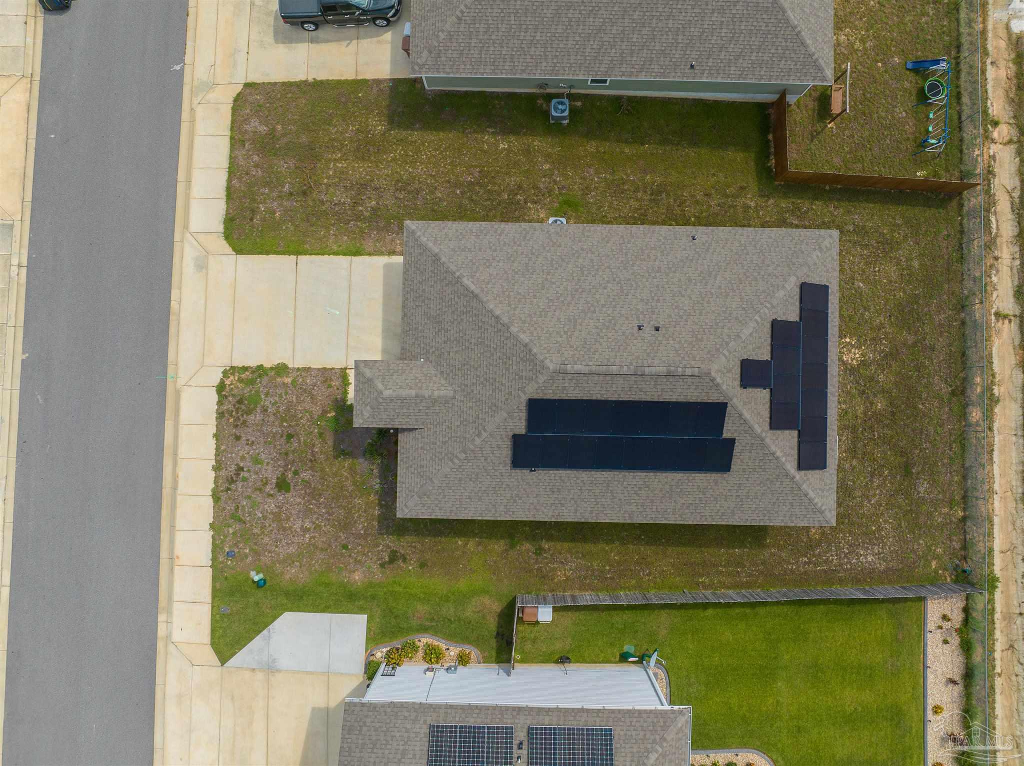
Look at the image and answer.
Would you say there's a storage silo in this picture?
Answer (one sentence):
No, the frame has no storage silo in it.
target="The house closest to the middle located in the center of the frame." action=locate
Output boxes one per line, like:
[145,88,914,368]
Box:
[353,221,839,526]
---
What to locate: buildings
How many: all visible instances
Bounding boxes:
[339,662,694,766]
[411,0,834,104]
[353,221,839,526]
